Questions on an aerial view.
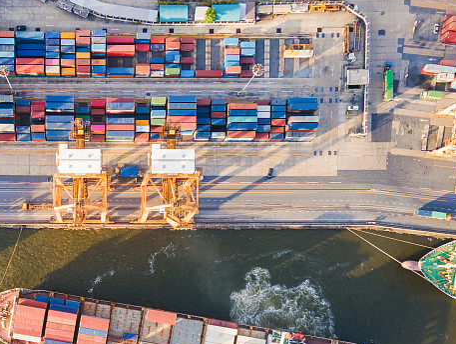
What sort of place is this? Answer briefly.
port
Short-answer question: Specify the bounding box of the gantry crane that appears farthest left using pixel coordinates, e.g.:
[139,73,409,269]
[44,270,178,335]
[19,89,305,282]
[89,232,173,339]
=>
[48,119,117,231]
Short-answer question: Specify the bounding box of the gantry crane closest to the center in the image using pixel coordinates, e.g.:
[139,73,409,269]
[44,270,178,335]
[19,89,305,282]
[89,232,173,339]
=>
[129,120,205,231]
